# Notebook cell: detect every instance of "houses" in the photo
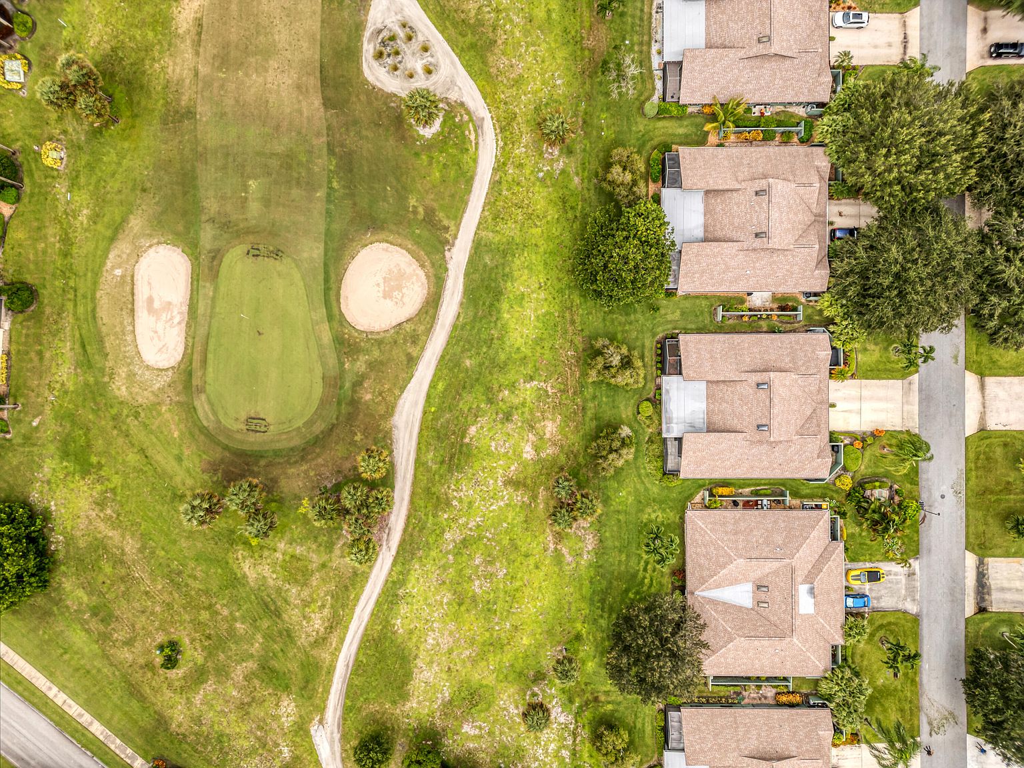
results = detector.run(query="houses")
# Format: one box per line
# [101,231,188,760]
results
[659,0,833,108]
[658,146,833,293]
[685,509,845,677]
[659,332,833,480]
[661,702,833,768]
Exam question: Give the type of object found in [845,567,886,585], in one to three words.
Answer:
car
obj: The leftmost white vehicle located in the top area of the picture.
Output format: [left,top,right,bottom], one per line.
[832,10,871,30]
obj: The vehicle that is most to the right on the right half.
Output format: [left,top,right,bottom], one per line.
[988,40,1024,61]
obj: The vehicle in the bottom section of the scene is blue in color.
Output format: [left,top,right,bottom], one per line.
[845,592,873,610]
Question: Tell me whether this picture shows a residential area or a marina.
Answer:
residential area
